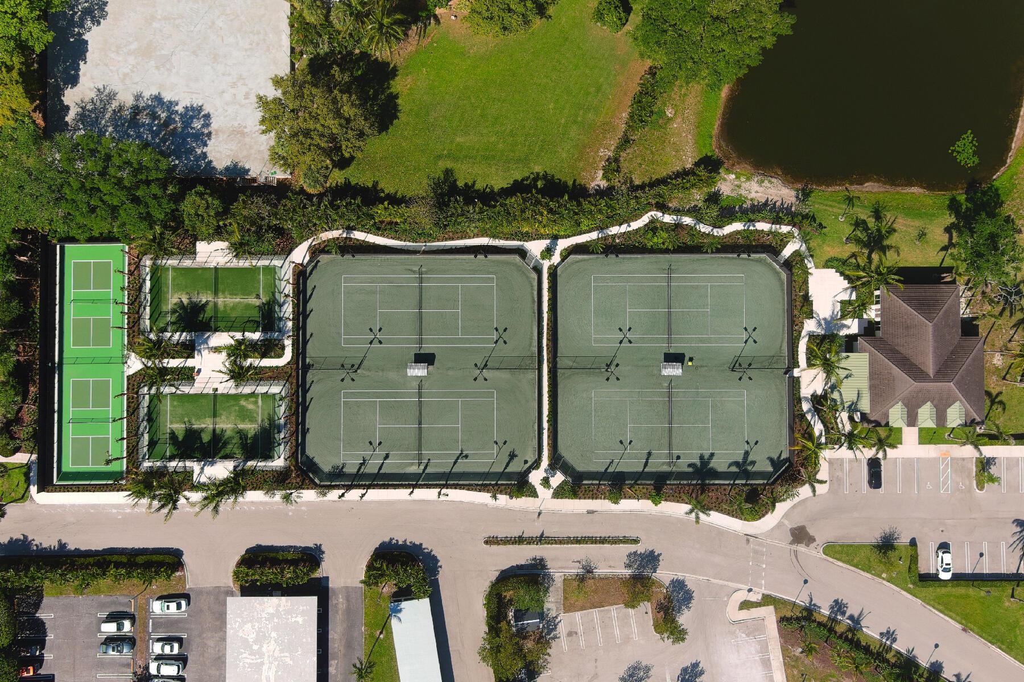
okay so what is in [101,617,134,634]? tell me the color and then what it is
white car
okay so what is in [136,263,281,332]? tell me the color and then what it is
green sports court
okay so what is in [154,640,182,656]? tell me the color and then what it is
white car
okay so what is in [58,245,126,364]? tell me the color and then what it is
green sports court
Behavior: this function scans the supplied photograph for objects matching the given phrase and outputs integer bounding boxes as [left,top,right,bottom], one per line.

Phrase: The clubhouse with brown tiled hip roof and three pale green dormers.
[829,284,986,428]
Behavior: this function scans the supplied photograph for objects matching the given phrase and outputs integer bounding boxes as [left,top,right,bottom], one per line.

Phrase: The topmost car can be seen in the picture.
[865,457,883,489]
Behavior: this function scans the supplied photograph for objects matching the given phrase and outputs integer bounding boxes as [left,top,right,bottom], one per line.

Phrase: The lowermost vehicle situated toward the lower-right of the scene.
[935,545,953,579]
